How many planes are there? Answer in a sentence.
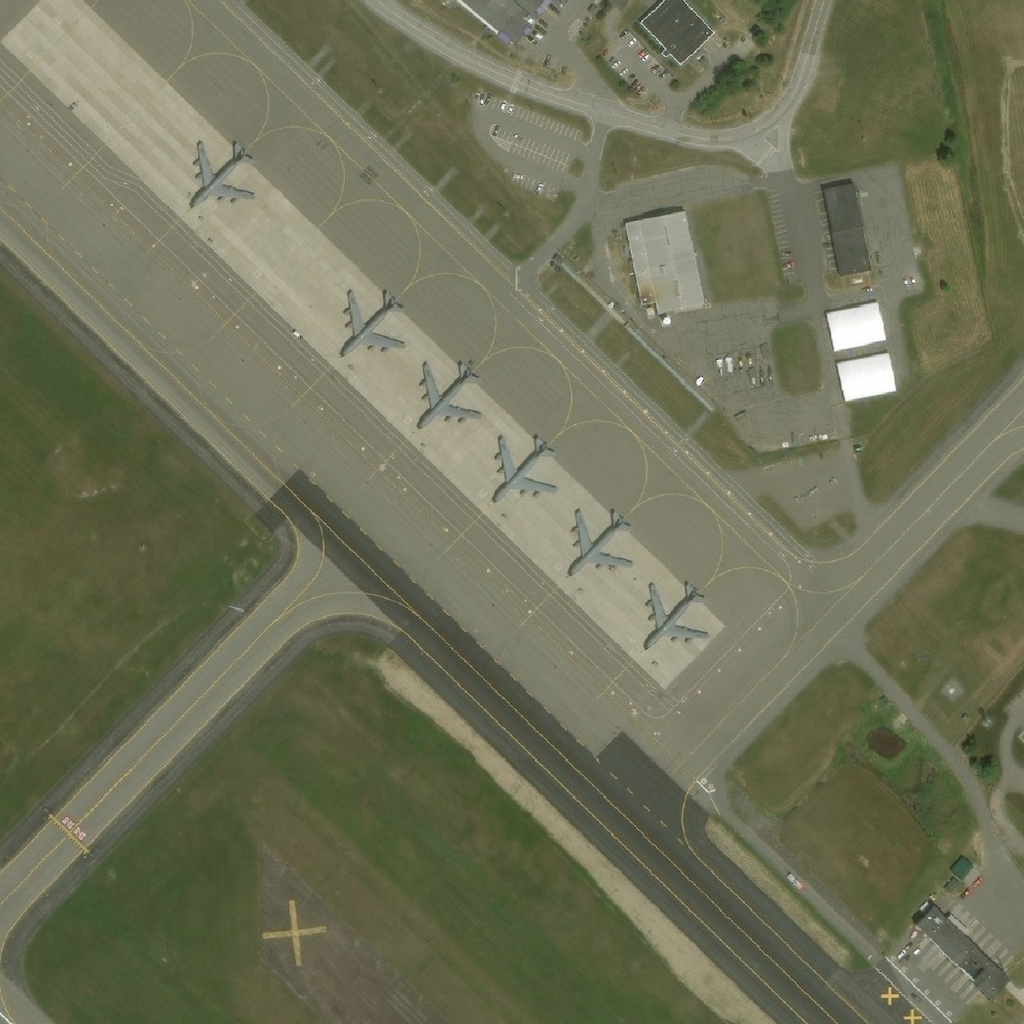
I count 6 planes.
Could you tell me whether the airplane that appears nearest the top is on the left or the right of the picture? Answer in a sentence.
It is on the left.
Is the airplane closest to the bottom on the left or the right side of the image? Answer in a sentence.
You can find the airplane closest to the bottom on the right side of the picture.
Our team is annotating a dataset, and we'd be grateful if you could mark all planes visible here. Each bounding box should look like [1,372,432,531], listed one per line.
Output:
[646,583,711,649]
[569,510,634,575]
[191,141,256,206]
[418,362,483,428]
[342,291,406,356]
[493,436,558,501]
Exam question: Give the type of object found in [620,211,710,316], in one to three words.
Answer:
hangar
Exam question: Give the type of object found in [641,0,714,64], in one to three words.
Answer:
building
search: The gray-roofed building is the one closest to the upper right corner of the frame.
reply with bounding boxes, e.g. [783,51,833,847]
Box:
[823,182,872,276]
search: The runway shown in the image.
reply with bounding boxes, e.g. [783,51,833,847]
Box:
[260,843,454,1024]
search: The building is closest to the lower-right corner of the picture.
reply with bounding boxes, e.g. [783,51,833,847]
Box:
[916,903,1010,1002]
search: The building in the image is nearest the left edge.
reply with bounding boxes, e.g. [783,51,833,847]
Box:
[457,0,556,45]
